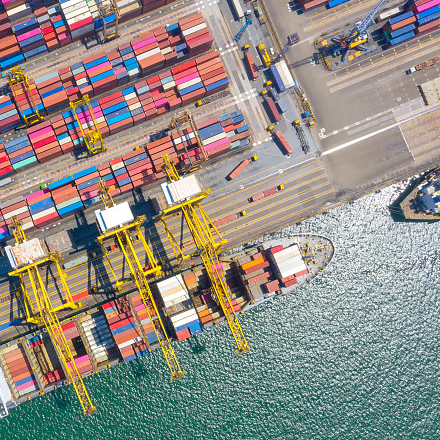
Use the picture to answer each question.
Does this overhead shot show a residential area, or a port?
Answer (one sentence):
It's a port.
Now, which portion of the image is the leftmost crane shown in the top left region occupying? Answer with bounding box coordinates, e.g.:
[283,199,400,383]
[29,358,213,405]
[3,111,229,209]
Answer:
[0,60,49,129]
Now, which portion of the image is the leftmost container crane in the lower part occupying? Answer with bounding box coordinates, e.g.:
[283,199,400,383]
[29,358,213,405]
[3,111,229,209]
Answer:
[1,215,95,417]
